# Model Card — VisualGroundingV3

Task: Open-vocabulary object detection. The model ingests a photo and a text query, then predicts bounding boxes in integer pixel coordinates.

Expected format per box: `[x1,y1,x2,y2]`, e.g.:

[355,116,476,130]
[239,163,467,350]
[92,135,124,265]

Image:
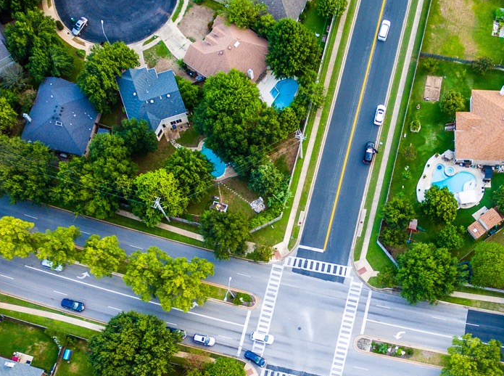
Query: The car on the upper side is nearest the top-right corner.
[377,20,390,41]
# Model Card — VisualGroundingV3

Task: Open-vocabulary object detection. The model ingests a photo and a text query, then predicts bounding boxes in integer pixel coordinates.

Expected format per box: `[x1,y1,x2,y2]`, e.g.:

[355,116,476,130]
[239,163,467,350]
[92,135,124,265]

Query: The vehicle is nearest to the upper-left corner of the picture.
[71,16,88,36]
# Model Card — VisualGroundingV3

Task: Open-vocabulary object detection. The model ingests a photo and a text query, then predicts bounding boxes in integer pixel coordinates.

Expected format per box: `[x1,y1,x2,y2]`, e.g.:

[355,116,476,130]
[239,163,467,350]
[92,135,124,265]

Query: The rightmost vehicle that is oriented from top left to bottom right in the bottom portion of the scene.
[244,348,267,367]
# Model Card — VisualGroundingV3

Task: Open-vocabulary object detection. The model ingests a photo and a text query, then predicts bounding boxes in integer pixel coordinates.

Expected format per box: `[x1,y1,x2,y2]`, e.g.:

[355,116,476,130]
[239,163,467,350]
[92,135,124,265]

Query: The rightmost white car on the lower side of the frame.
[250,331,275,344]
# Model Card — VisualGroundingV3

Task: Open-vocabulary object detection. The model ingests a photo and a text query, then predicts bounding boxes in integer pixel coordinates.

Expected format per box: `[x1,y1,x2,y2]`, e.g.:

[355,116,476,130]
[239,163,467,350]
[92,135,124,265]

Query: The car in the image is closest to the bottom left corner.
[60,298,86,311]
